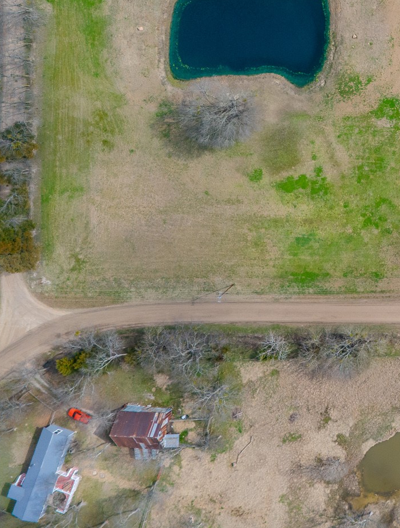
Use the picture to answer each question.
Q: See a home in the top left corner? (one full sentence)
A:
No, looking in the top left corner, there is no home.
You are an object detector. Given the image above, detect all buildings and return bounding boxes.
[109,407,168,450]
[7,424,74,522]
